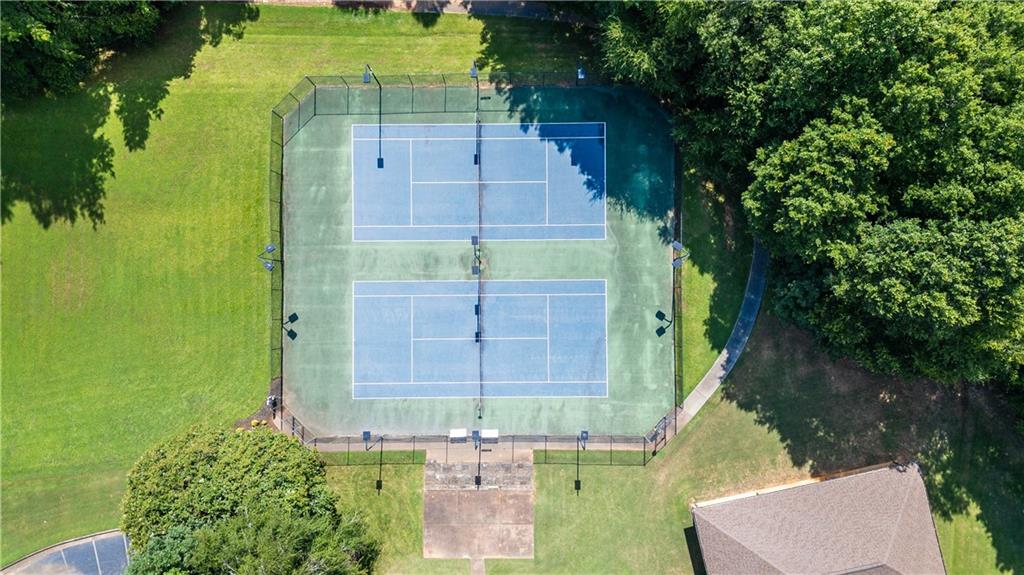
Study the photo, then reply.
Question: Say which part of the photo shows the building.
bottom right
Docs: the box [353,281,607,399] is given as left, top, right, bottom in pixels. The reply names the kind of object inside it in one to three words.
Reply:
tennis court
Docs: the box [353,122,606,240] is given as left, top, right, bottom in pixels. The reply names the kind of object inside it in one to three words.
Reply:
tennis court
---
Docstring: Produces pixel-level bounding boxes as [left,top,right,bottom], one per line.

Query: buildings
[691,460,942,575]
